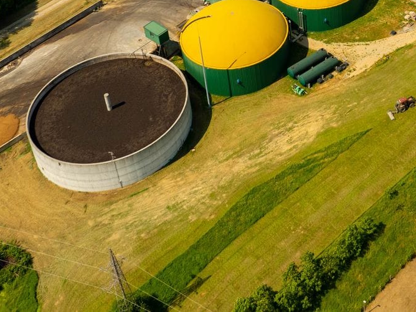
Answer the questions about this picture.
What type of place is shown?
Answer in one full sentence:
The area seen from above is an industrial area.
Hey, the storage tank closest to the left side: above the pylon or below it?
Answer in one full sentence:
The storage tank closest to the left side is found above the pylon in the photo.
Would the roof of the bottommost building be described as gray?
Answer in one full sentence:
No, the color of the roof of the bottommost building is green.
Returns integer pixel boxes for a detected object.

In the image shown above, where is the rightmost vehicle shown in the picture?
[386,92,416,116]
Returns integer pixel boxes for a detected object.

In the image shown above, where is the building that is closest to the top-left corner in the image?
[132,25,173,56]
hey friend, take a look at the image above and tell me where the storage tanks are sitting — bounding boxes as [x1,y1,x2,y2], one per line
[270,0,367,34]
[25,47,193,192]
[291,48,328,77]
[302,57,338,88]
[179,0,292,95]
